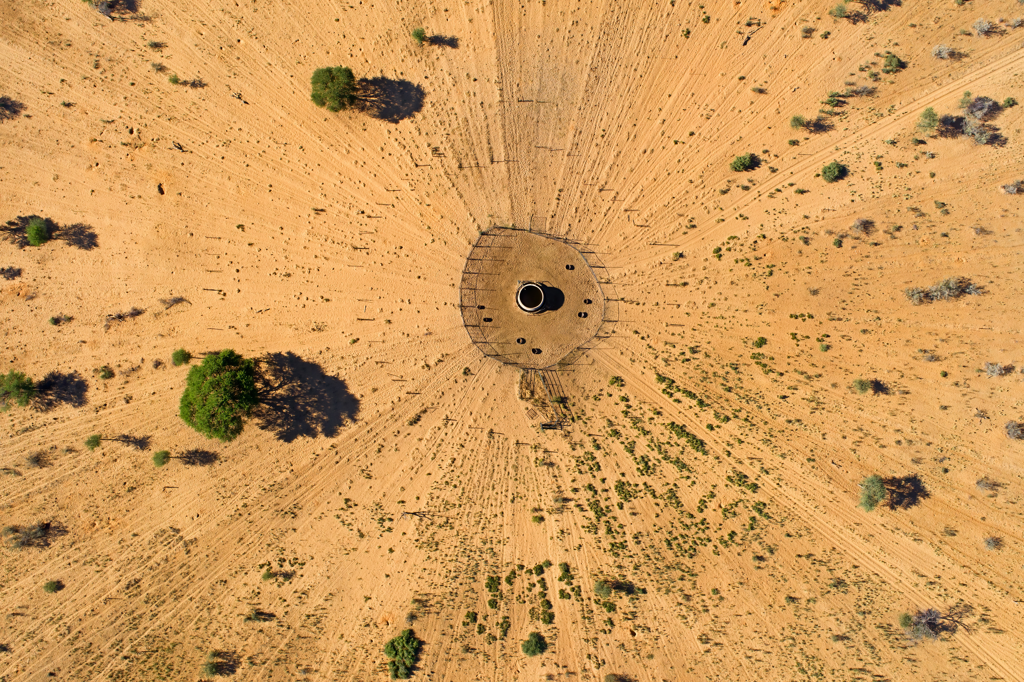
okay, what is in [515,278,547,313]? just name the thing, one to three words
water tank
